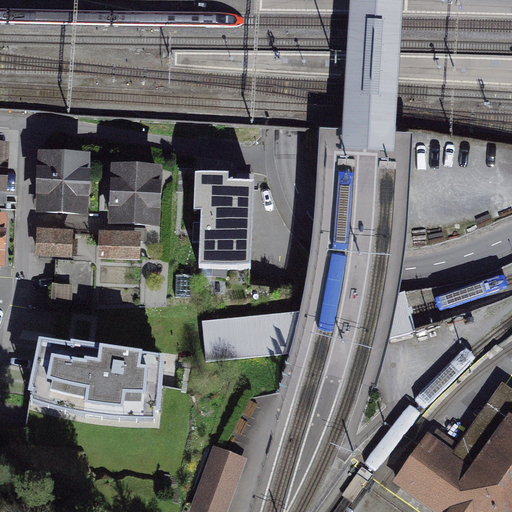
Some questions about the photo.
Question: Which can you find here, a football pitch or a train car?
train car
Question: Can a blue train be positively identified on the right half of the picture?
Yes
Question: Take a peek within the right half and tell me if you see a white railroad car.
Yes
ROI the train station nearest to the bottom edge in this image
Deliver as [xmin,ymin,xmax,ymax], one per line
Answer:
[258,128,412,512]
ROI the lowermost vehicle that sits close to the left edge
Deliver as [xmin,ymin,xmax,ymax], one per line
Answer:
[6,356,32,368]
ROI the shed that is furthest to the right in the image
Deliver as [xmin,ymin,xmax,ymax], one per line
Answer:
[454,382,512,461]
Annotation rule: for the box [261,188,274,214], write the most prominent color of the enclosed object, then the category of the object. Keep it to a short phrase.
white vehicle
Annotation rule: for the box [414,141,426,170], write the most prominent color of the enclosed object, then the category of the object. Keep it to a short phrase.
white vehicle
